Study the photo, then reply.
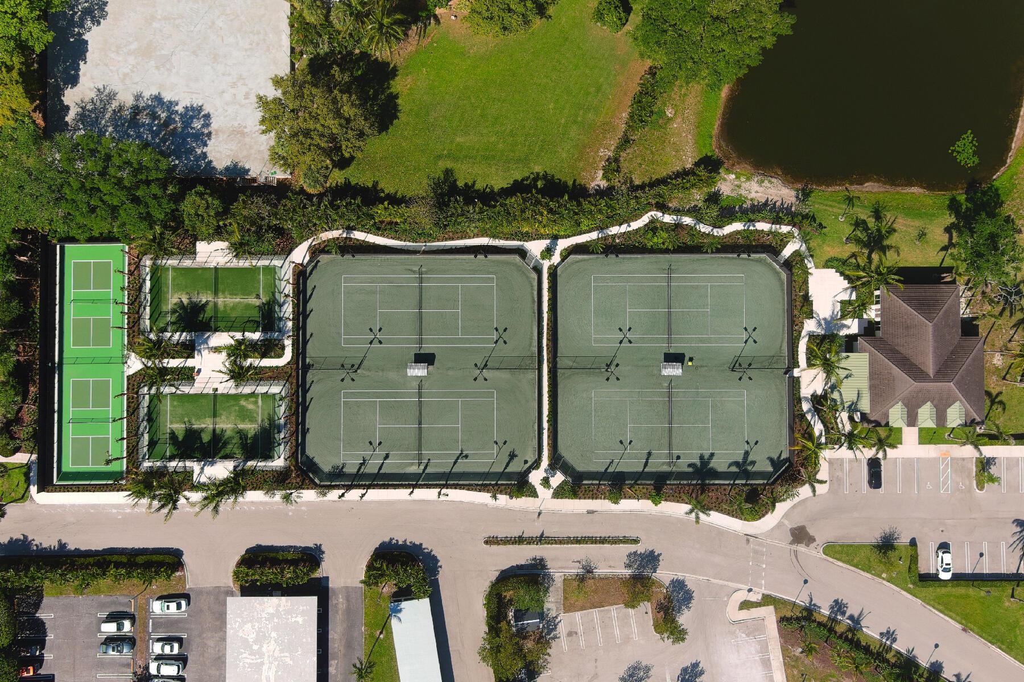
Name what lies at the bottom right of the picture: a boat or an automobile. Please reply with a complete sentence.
Looking at the bottom right of the picture, you will find an automobile.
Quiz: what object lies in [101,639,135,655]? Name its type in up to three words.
car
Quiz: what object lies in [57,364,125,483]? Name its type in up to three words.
sports court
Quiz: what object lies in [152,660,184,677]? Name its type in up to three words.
car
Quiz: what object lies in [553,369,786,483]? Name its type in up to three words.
tennis court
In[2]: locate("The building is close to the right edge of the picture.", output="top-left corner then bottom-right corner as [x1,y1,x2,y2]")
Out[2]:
[829,284,986,428]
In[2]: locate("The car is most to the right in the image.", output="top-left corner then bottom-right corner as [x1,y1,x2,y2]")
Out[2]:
[935,545,953,579]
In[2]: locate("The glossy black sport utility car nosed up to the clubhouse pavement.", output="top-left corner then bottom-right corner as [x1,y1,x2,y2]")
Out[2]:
[865,457,883,489]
